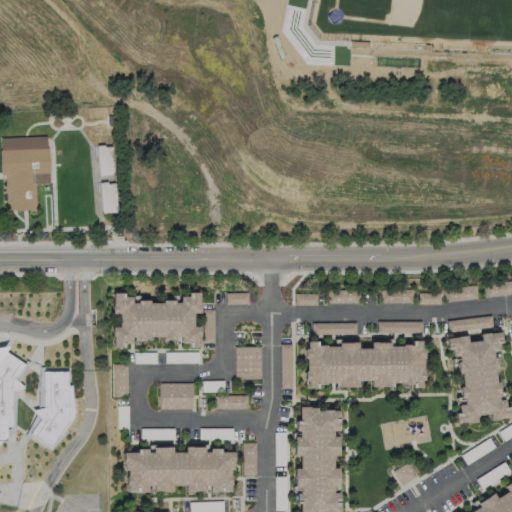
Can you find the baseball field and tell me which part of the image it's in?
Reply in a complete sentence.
Look in the top right portion of the view to spot the baseball field.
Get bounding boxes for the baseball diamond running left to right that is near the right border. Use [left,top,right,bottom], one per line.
[310,0,512,44]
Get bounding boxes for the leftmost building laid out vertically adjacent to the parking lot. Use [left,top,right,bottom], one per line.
[297,408,344,512]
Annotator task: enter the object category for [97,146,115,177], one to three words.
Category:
building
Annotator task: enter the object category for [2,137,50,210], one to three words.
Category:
building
